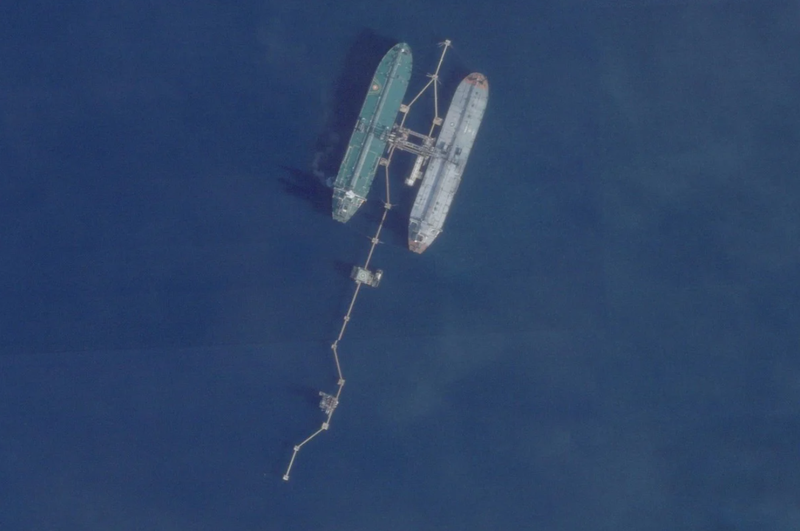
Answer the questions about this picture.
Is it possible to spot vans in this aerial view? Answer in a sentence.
No, the frame has no van in it.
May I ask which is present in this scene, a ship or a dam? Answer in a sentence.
It is a ship that can be seen here.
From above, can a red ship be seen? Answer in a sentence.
No, no red ship can be seen from above.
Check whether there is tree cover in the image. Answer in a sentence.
No, the picture contains no tree cover.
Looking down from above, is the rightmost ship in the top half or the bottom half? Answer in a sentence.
Seen from above, the rightmost ship lies in the top half of the view.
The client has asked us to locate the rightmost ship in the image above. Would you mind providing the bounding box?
[409,73,489,254]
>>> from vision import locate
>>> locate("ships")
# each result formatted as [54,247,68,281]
[334,42,412,221]
[409,73,489,254]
